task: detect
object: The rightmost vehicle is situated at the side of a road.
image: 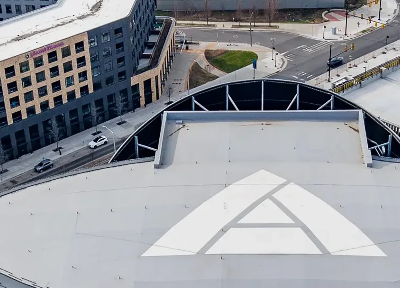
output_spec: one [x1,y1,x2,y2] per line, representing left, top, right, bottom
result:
[325,54,346,67]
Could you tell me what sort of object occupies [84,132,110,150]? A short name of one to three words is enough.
car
